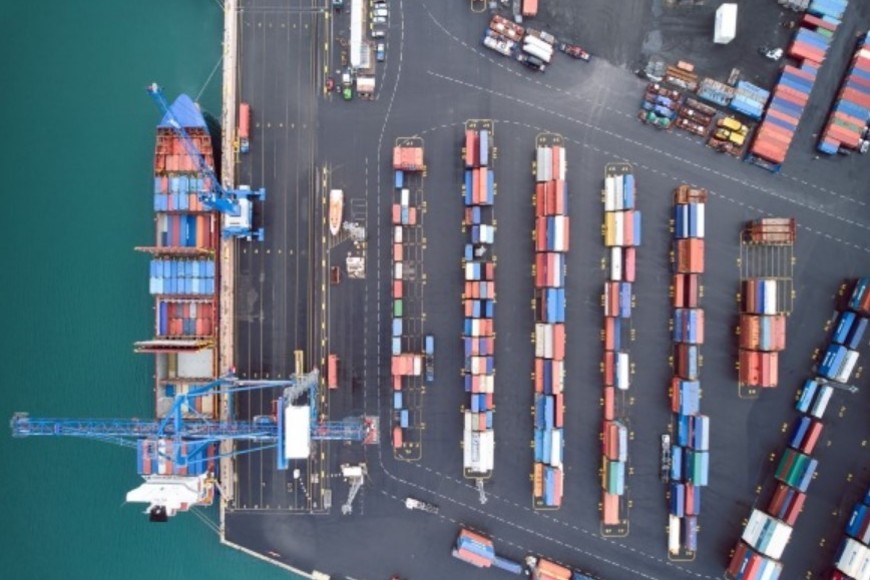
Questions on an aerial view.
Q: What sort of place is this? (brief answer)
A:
port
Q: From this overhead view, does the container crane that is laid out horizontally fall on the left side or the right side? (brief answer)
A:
left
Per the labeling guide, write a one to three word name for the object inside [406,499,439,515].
vehicle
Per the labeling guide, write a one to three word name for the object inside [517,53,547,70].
vehicle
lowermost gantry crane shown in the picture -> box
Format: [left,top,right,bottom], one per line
[11,367,377,469]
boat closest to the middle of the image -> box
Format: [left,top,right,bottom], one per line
[329,189,342,235]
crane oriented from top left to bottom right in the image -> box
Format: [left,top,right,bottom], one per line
[146,86,267,241]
